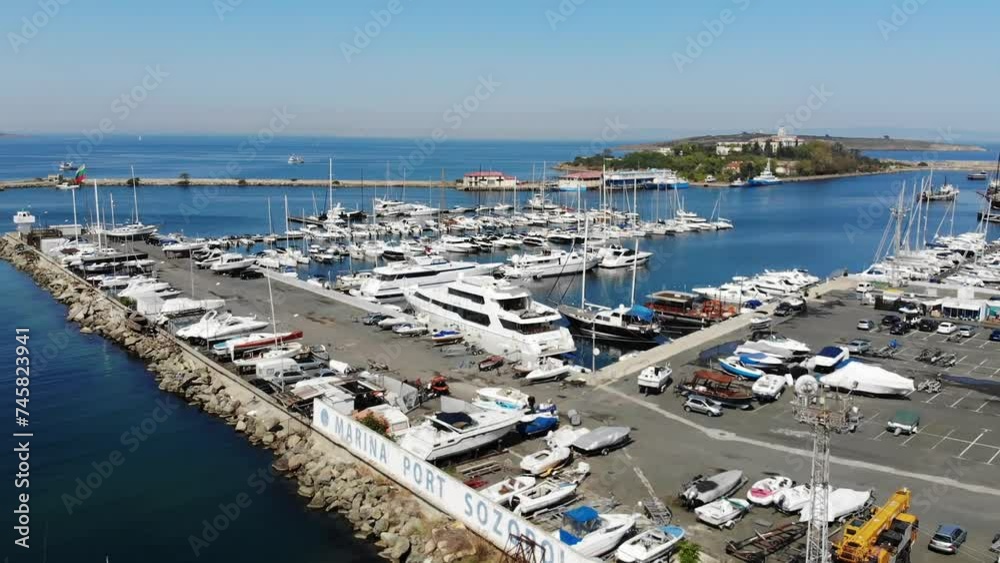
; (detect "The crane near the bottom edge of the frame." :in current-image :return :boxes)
[832,483,914,563]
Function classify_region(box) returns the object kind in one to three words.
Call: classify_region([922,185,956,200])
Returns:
boat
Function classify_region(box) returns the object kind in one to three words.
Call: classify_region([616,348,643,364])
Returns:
boat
